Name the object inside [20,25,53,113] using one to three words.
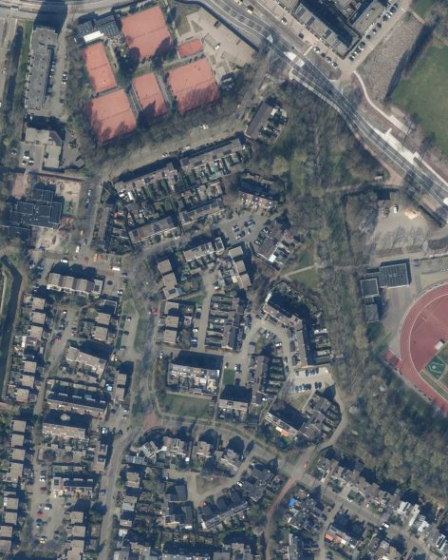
building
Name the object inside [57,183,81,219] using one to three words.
playground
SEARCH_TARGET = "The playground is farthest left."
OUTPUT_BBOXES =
[38,231,63,252]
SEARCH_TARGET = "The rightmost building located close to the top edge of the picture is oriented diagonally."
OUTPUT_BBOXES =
[352,0,390,33]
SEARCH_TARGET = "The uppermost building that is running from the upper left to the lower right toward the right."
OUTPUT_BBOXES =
[291,0,347,54]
